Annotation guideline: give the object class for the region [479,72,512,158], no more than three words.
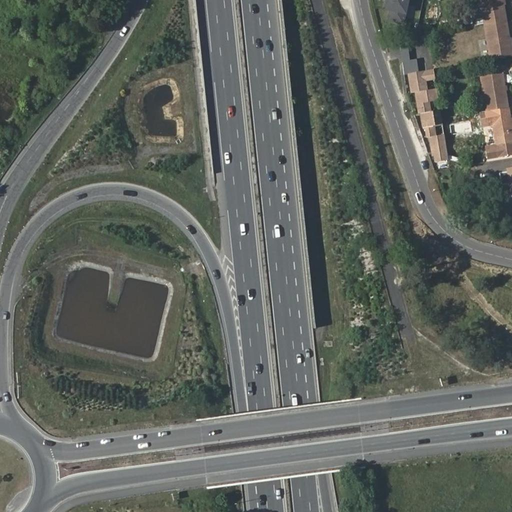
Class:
house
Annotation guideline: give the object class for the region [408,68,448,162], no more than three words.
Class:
house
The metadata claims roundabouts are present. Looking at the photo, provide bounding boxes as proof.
[0,372,86,512]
